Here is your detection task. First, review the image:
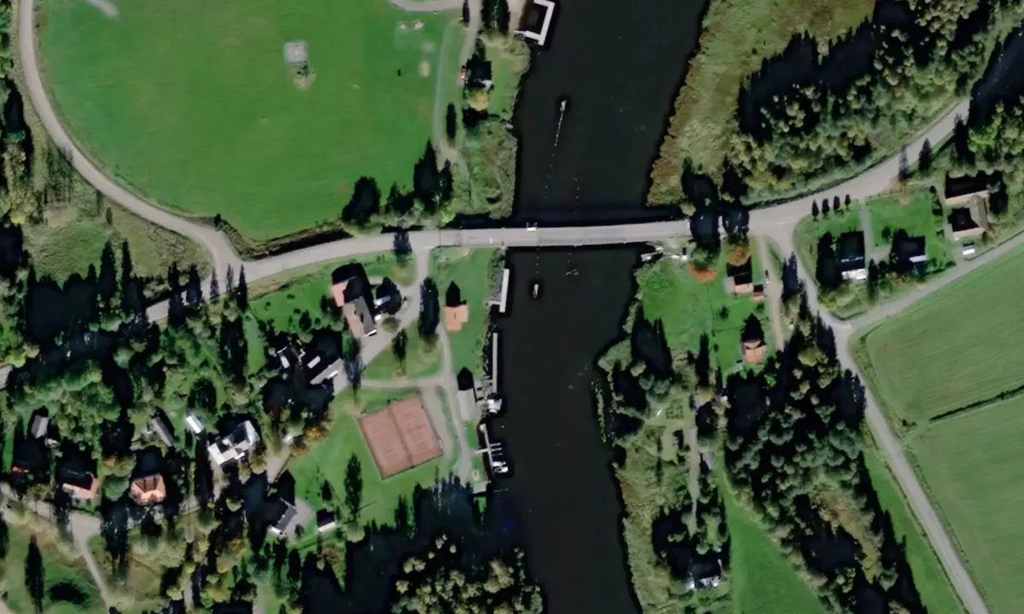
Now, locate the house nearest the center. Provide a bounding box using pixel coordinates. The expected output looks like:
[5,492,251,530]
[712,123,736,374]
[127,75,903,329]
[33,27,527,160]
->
[443,304,468,332]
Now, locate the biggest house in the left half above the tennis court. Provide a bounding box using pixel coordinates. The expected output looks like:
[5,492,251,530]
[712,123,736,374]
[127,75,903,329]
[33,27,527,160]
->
[329,276,378,340]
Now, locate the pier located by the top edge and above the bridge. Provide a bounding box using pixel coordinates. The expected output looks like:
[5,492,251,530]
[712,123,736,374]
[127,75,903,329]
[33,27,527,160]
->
[517,0,555,45]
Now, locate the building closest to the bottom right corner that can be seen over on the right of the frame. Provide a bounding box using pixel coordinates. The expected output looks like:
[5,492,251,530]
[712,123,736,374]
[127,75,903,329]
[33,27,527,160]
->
[684,566,724,591]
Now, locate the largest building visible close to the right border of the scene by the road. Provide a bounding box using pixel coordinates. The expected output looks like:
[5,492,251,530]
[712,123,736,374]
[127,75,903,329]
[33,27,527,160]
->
[944,186,993,241]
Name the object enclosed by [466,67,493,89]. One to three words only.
building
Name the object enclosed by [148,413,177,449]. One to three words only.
shed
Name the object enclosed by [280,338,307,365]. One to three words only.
house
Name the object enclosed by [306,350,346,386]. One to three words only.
shed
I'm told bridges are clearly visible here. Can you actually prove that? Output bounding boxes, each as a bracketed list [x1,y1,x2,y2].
[445,218,693,248]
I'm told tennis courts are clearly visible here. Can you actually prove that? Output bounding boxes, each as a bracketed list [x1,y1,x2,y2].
[359,396,443,479]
